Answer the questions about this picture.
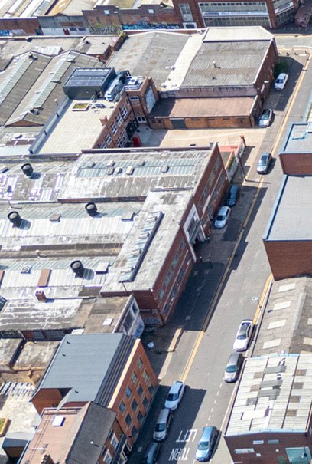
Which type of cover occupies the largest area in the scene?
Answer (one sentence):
The bulk of the photo consists of buildings.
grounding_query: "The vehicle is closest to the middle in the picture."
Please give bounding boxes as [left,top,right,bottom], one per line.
[213,206,231,228]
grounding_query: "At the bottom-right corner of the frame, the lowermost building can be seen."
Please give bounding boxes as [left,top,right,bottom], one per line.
[225,350,312,458]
